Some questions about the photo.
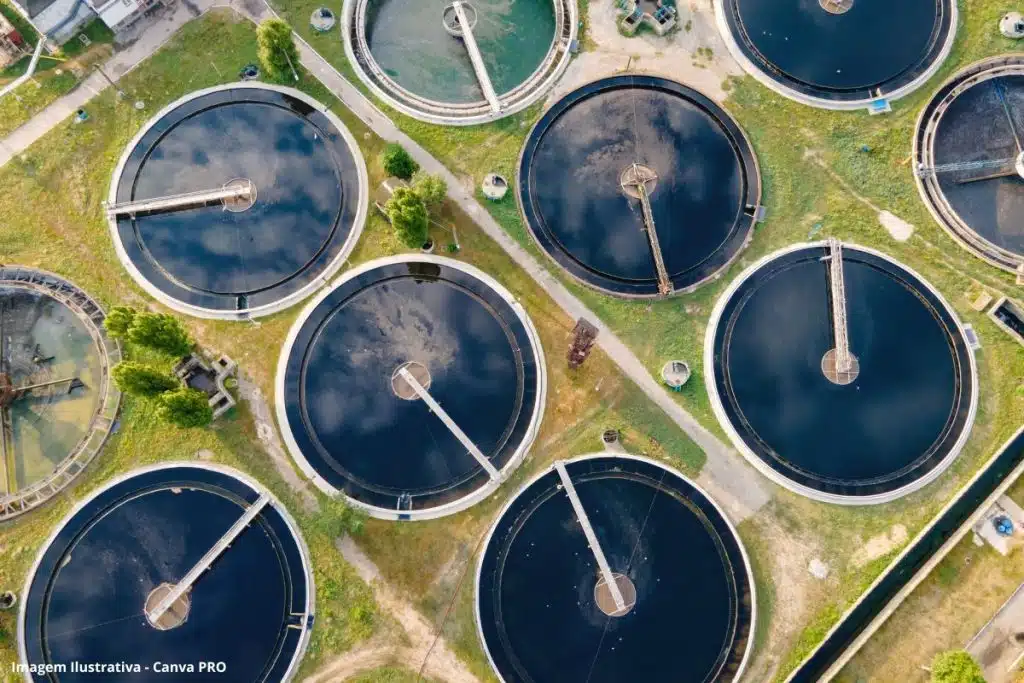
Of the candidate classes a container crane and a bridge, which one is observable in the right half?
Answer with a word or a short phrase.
bridge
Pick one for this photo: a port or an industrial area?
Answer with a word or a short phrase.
industrial area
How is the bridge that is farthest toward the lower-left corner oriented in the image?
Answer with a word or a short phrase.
on a diagonal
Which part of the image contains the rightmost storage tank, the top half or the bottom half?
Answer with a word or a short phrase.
top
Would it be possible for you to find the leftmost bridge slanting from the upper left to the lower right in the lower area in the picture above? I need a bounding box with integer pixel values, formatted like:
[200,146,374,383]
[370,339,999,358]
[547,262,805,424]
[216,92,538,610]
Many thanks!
[399,366,504,486]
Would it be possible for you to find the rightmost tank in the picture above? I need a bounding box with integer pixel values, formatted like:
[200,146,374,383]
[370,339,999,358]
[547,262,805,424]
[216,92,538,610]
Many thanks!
[910,52,1024,291]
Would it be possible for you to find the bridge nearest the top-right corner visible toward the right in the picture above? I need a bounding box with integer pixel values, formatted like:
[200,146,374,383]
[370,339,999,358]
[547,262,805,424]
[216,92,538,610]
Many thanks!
[913,156,1022,177]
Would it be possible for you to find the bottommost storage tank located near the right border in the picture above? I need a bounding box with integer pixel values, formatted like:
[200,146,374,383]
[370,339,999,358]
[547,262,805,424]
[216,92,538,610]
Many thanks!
[704,237,979,506]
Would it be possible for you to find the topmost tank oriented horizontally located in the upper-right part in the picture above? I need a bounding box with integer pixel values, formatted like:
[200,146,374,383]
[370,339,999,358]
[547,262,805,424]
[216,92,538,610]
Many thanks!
[711,0,958,109]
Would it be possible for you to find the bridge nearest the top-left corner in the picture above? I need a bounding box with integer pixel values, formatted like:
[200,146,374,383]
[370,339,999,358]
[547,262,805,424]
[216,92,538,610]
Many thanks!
[106,182,254,219]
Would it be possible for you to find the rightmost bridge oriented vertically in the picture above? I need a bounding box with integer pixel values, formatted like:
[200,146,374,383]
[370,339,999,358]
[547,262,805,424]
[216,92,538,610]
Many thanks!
[815,237,853,373]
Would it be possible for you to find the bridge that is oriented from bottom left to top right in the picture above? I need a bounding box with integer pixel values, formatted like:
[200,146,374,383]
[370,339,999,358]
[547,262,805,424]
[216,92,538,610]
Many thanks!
[146,491,276,623]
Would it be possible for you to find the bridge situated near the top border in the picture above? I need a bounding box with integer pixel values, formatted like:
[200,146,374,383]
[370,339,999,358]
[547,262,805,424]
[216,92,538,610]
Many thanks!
[452,2,503,117]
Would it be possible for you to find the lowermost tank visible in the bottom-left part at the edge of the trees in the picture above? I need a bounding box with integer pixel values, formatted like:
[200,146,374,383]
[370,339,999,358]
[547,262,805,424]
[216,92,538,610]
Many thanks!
[17,462,317,683]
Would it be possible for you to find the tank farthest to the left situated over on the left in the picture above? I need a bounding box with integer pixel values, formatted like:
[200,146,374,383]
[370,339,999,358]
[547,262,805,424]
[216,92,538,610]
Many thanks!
[0,266,123,522]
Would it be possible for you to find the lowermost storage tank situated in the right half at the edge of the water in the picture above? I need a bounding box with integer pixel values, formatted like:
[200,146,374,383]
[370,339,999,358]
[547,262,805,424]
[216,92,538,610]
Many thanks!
[475,453,757,683]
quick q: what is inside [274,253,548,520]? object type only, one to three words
storage tank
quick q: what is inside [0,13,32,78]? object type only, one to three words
building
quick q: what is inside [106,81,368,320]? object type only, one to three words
storage tank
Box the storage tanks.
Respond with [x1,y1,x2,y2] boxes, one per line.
[17,462,317,683]
[516,73,762,300]
[704,237,979,506]
[910,52,1024,291]
[0,266,123,522]
[711,0,958,109]
[475,453,757,683]
[344,0,576,125]
[274,253,548,520]
[106,81,368,320]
